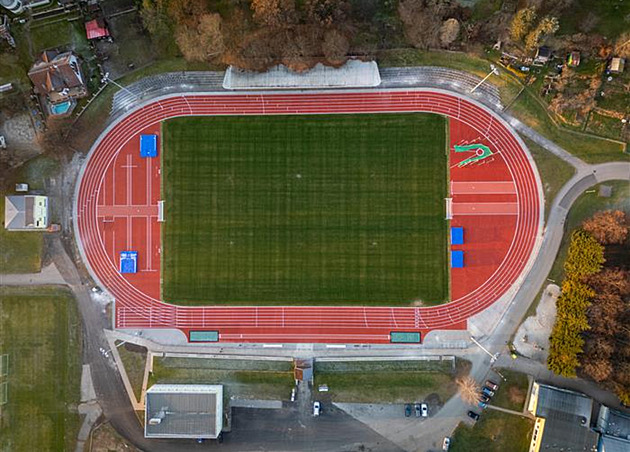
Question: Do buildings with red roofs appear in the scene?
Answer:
Yes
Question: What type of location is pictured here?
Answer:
sports ground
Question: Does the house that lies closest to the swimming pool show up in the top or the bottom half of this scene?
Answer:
top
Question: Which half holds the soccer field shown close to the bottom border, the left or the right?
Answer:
left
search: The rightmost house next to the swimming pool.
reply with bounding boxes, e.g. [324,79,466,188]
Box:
[28,48,84,103]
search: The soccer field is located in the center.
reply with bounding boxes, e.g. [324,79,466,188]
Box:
[161,113,450,306]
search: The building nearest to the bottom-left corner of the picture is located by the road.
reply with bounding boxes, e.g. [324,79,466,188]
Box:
[145,384,223,438]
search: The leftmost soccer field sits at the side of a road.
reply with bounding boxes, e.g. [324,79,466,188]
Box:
[0,293,79,452]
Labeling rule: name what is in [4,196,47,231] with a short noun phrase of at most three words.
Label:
house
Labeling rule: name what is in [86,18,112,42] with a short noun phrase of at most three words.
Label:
house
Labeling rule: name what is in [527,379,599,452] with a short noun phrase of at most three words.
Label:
building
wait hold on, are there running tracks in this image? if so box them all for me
[74,88,544,344]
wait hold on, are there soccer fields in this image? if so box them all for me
[161,113,450,306]
[0,293,79,452]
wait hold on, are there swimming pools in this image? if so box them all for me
[48,97,77,116]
